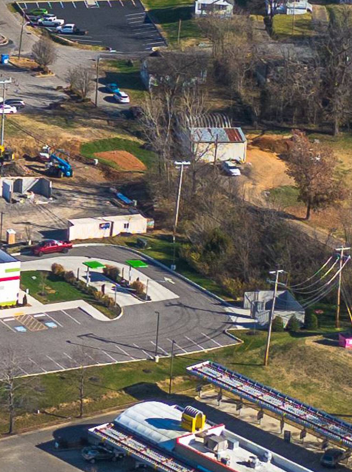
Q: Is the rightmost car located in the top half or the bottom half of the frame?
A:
bottom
